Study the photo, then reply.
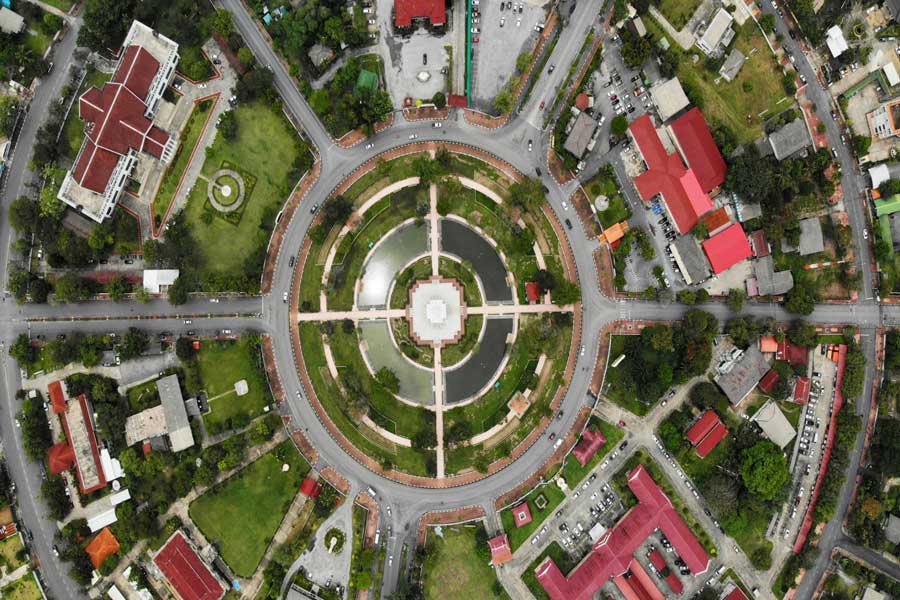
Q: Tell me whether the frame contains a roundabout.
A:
Yes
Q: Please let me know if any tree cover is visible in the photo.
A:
Yes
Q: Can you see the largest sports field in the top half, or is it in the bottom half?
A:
bottom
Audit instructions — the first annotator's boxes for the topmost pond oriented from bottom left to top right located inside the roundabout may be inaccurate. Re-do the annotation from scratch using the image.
[358,220,428,306]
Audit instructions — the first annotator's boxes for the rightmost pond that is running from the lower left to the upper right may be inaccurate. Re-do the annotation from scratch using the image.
[446,320,515,408]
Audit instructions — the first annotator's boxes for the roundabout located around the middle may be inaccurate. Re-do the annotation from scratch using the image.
[268,114,605,514]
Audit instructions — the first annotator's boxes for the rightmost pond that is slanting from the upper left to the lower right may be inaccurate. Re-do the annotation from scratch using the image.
[443,220,515,304]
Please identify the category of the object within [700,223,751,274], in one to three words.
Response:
house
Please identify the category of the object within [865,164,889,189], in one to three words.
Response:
shed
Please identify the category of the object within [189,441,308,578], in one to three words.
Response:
sports field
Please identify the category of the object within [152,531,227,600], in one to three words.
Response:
building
